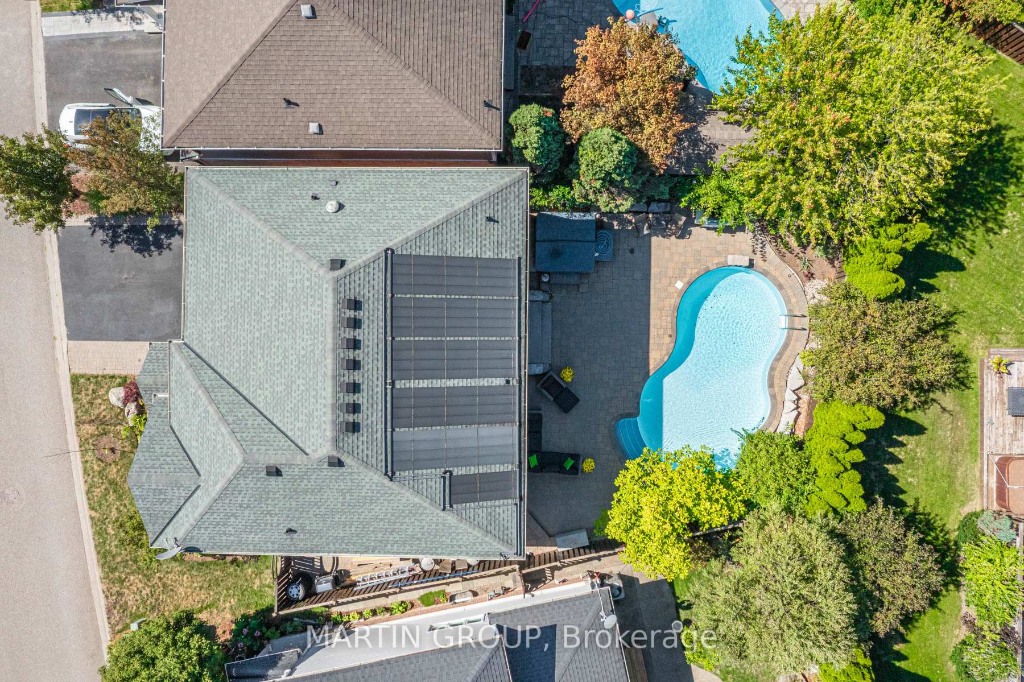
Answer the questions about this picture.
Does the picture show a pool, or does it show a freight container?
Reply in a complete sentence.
This aerial view contains a pool.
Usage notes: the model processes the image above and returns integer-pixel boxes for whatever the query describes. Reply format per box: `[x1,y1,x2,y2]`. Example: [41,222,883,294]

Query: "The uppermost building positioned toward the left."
[115,0,504,168]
